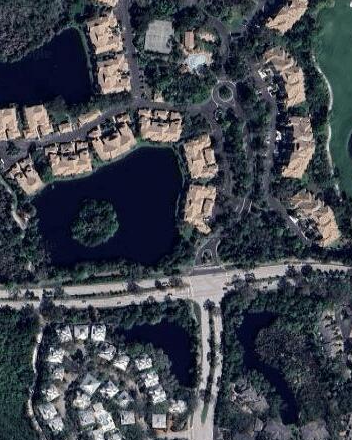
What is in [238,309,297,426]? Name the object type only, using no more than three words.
pond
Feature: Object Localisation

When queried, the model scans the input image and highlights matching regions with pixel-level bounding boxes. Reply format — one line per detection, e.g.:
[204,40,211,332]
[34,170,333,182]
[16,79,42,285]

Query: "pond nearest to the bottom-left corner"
[117,323,192,390]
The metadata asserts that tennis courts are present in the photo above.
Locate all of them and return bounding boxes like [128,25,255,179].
[147,21,160,53]
[159,21,174,53]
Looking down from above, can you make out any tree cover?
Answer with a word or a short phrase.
Yes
